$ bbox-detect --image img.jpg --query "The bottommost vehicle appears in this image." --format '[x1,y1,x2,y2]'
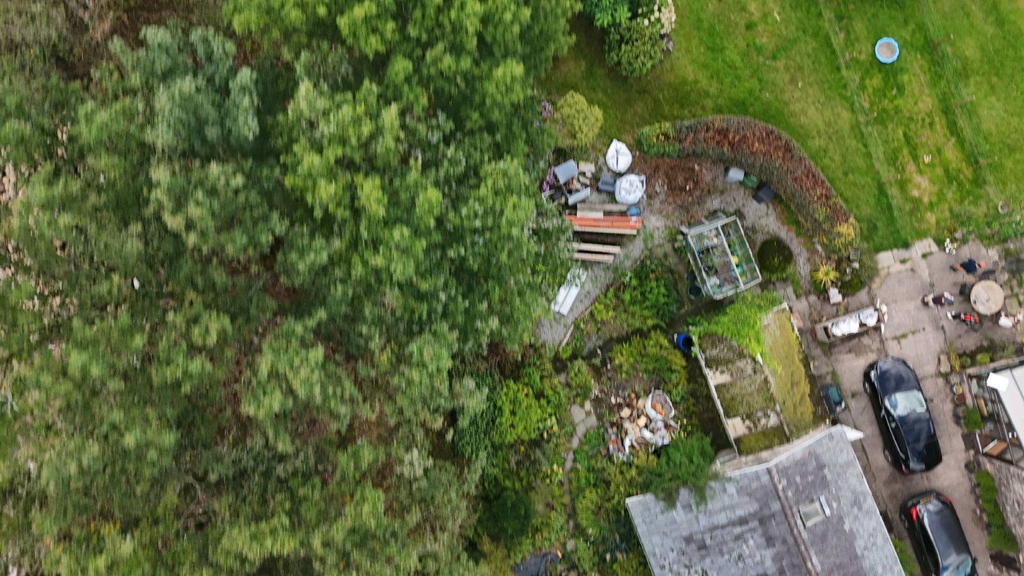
[902,490,982,576]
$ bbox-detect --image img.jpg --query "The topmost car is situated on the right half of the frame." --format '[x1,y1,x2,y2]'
[863,353,947,481]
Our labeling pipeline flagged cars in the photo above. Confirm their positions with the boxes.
[902,490,982,576]
[863,353,947,481]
